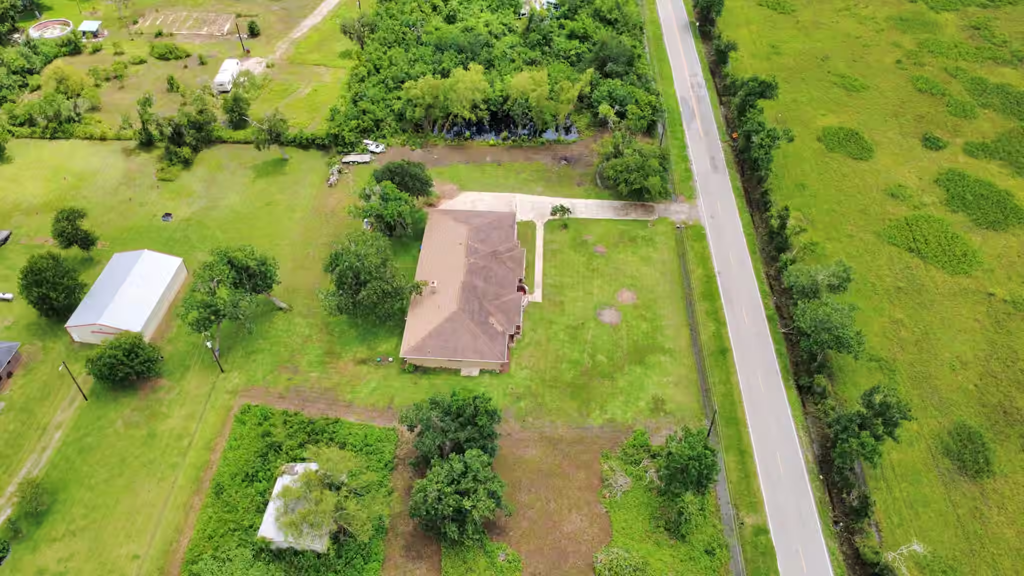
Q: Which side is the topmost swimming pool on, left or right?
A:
left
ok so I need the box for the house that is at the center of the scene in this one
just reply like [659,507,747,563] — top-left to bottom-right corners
[399,209,530,370]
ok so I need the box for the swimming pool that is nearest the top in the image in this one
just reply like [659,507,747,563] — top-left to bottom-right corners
[23,16,74,42]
